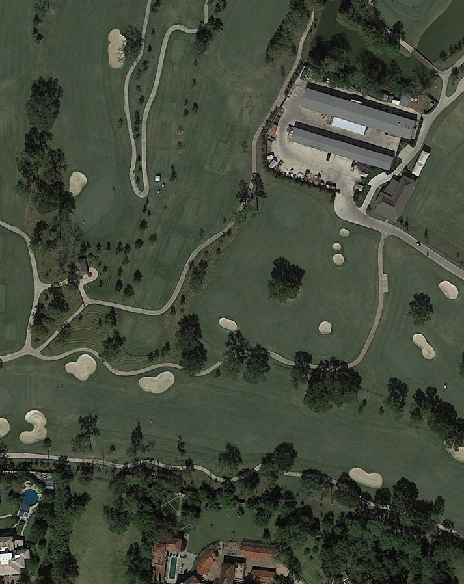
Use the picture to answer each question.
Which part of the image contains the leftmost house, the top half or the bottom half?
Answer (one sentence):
The leftmost house is in the bottom half of the image.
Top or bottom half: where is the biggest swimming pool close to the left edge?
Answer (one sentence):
The biggest swimming pool close to the left edge sits in the bottom half of the picture.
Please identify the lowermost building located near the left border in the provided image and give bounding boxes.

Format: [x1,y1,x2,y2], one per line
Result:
[0,536,32,584]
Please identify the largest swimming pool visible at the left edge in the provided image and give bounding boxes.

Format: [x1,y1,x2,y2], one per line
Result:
[17,487,41,518]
